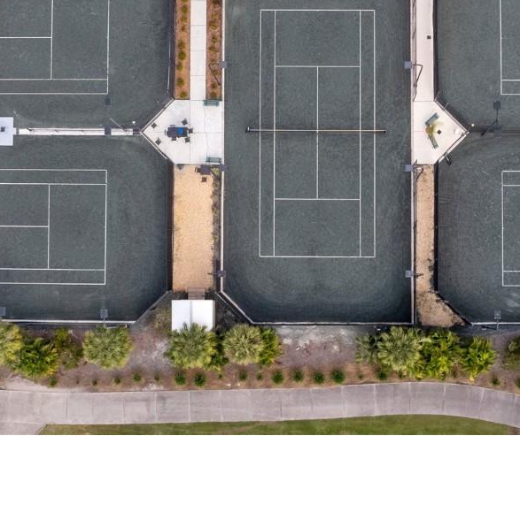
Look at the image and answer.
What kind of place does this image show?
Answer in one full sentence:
What you see here is a sports ground.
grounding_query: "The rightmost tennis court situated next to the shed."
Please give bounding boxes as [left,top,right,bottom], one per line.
[221,0,414,326]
